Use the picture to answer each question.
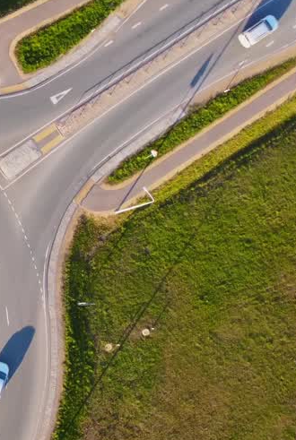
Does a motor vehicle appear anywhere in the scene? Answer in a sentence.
Yes, a motor vehicle can be made out from above.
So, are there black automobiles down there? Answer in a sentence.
No, there is no black automobile in the image.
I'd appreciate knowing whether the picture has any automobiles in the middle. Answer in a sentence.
No, no automobile appears in the middle.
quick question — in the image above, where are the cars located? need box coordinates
[235,16,278,48]
[0,362,8,396]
